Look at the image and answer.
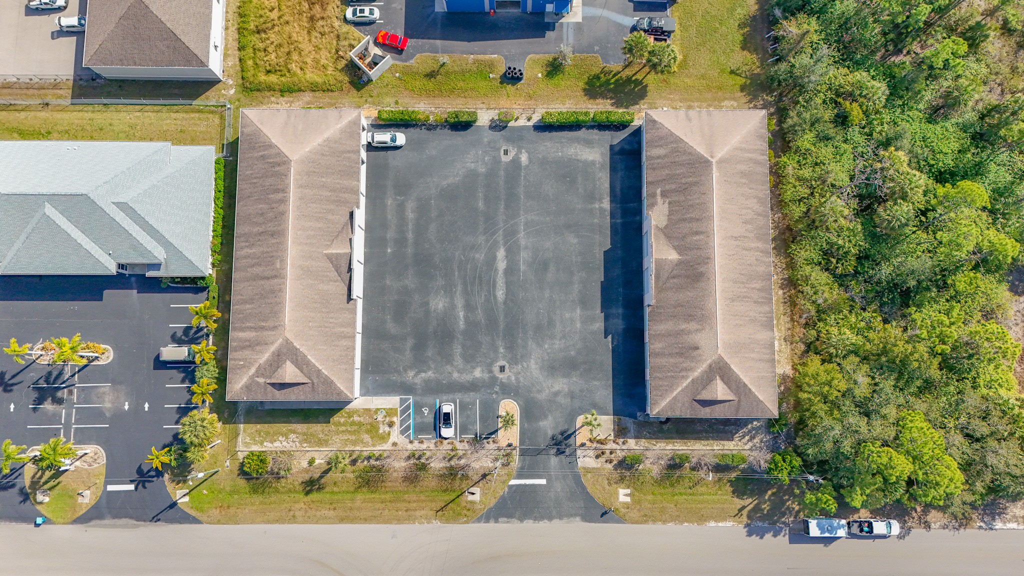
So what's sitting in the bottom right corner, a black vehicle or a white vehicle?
white vehicle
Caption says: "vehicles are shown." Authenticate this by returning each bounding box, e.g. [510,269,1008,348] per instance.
[158,346,199,362]
[346,7,379,23]
[370,132,404,148]
[631,31,667,48]
[29,0,69,10]
[848,520,897,538]
[636,15,675,33]
[439,403,455,438]
[53,15,86,32]
[377,33,410,52]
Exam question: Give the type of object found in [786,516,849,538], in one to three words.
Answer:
trailer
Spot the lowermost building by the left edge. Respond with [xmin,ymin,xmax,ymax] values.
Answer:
[0,141,220,277]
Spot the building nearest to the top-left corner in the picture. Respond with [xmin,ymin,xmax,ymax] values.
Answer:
[83,0,226,80]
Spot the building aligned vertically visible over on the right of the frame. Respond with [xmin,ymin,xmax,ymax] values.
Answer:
[640,109,780,418]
